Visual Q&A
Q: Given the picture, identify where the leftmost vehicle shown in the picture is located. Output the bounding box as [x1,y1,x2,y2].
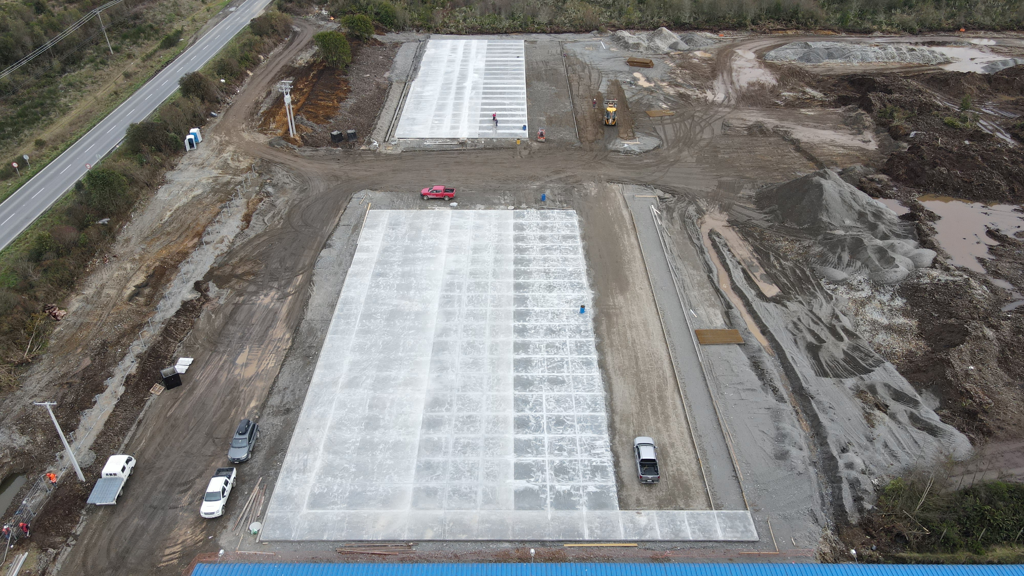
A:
[89,456,135,509]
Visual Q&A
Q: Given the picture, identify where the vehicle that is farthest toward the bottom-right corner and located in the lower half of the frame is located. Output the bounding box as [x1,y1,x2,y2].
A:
[633,434,663,482]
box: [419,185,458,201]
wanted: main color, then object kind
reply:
red vehicle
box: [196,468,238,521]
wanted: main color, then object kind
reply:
white truck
